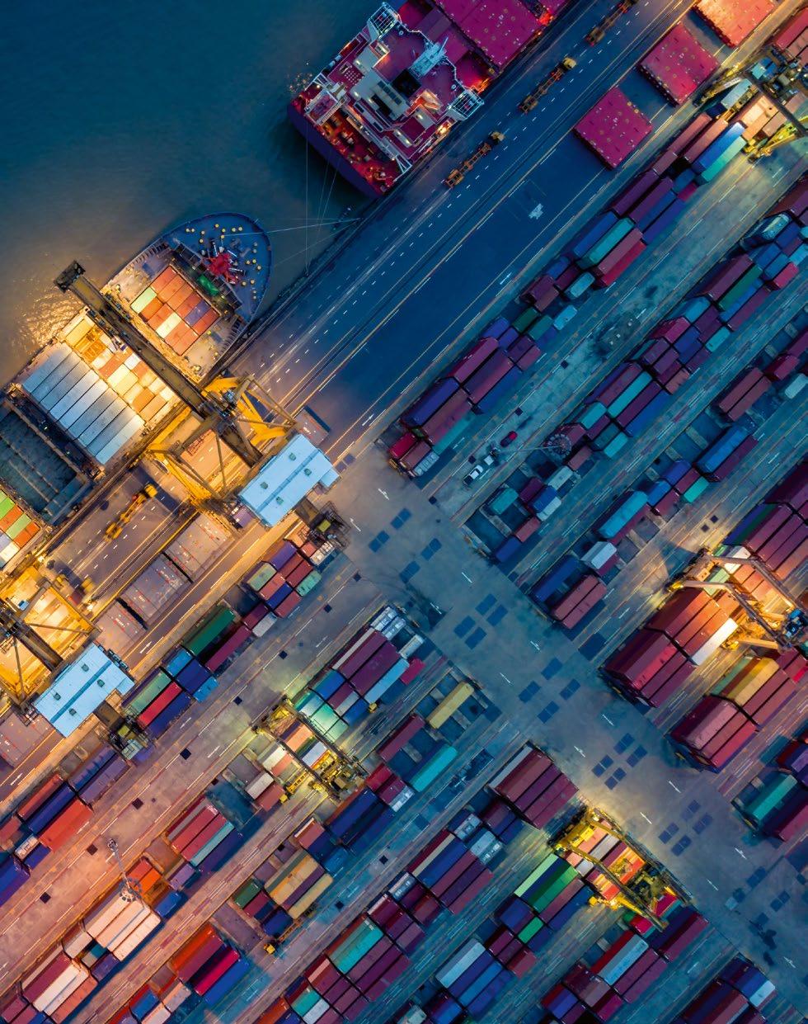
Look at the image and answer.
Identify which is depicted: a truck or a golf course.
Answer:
truck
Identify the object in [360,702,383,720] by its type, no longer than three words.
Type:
vehicle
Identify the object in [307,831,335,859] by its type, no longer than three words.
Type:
shipping container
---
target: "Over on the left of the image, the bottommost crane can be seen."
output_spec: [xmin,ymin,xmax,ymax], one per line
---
[249,690,383,817]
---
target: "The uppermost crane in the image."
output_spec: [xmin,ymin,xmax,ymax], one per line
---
[694,25,808,165]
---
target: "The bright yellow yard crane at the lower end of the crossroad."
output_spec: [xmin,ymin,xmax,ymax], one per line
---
[546,801,707,942]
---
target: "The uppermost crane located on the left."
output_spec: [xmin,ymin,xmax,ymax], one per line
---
[49,246,354,550]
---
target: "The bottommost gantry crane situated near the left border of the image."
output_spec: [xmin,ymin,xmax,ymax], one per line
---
[0,555,151,757]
